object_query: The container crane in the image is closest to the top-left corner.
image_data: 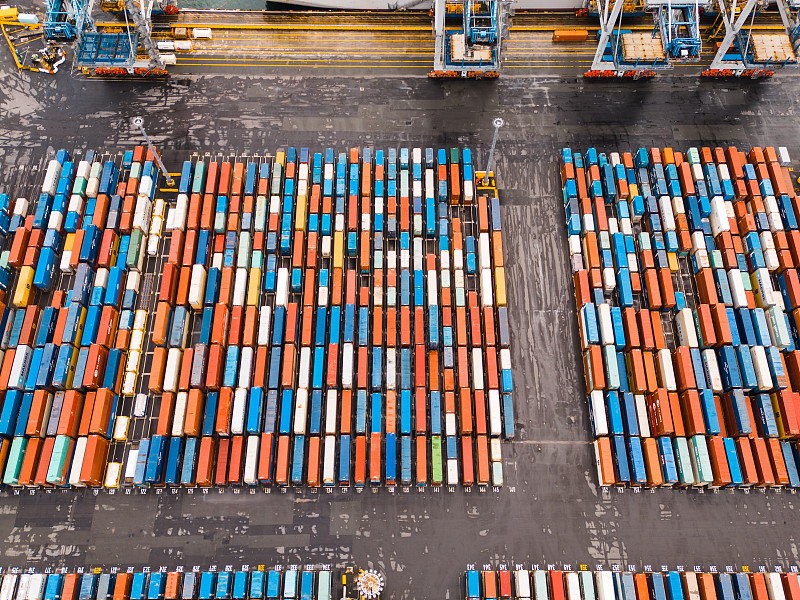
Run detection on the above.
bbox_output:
[39,0,180,79]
